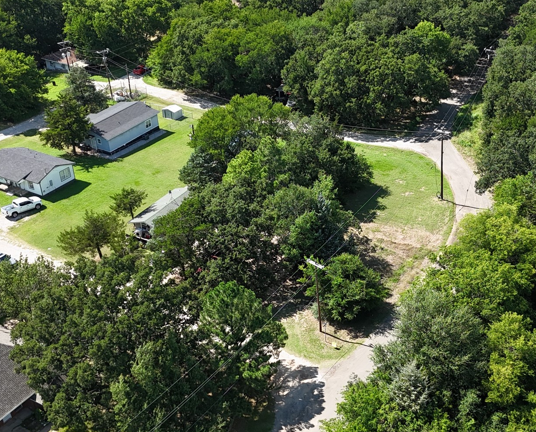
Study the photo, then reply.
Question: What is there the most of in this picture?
trees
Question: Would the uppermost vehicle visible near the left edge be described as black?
No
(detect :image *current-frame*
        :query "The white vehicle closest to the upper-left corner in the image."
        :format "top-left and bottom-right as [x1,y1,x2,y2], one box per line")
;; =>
[1,197,44,217]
